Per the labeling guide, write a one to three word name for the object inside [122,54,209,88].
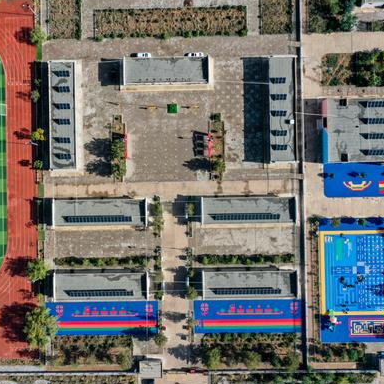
building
